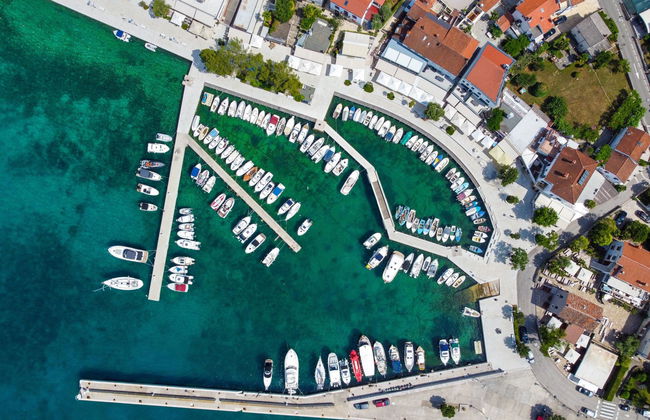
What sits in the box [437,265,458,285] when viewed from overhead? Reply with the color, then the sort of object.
white boat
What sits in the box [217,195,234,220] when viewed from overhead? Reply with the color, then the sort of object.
white boat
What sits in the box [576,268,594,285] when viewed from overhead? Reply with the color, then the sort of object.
white umbrella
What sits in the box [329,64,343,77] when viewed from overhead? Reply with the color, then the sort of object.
white umbrella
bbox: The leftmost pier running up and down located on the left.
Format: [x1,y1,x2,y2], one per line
[148,62,204,301]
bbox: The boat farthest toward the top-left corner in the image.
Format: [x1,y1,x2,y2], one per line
[112,29,133,43]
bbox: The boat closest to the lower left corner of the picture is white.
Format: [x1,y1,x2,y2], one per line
[95,277,145,293]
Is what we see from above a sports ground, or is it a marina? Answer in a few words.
marina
